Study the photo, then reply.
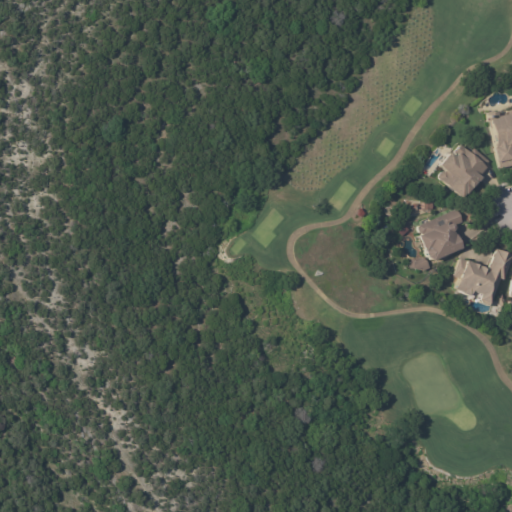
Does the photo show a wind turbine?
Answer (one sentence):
No, there isn't any wind turbine down there.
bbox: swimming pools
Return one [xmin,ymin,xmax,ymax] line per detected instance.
[472,302,491,312]
[426,149,440,169]
[404,239,418,258]
[488,92,512,106]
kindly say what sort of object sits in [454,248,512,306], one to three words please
house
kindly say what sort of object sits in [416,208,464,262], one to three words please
house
